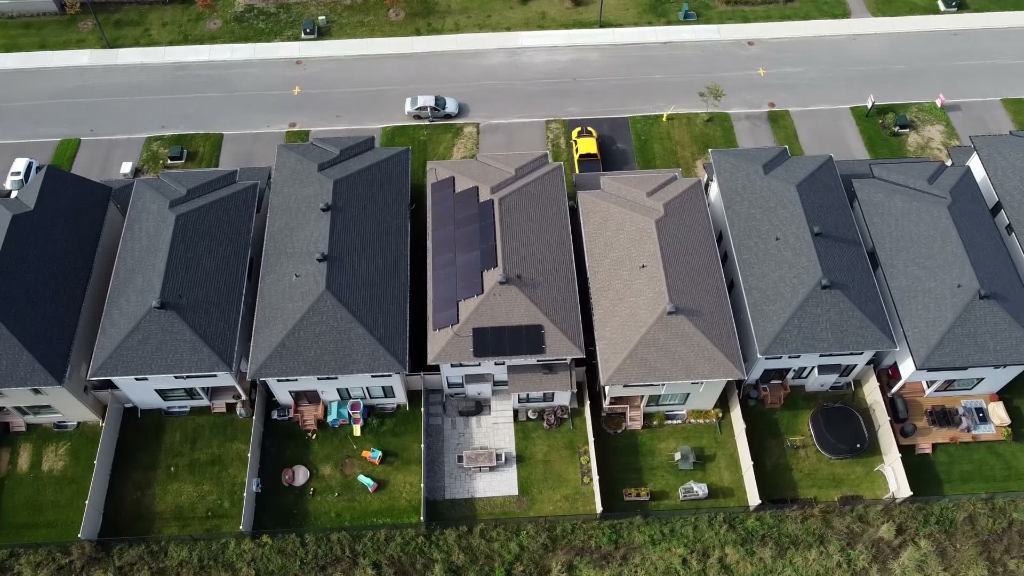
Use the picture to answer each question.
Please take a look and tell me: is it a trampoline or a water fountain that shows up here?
trampoline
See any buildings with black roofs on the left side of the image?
Yes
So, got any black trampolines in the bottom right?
Yes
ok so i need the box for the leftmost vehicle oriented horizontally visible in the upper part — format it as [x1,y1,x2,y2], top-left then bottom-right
[405,95,458,121]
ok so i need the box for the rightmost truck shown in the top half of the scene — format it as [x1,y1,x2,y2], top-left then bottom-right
[571,127,603,174]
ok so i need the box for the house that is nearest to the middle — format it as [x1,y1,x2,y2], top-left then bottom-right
[426,151,585,411]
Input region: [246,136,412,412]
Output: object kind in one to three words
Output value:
house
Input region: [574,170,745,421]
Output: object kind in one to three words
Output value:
house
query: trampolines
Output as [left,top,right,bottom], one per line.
[805,405,872,462]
